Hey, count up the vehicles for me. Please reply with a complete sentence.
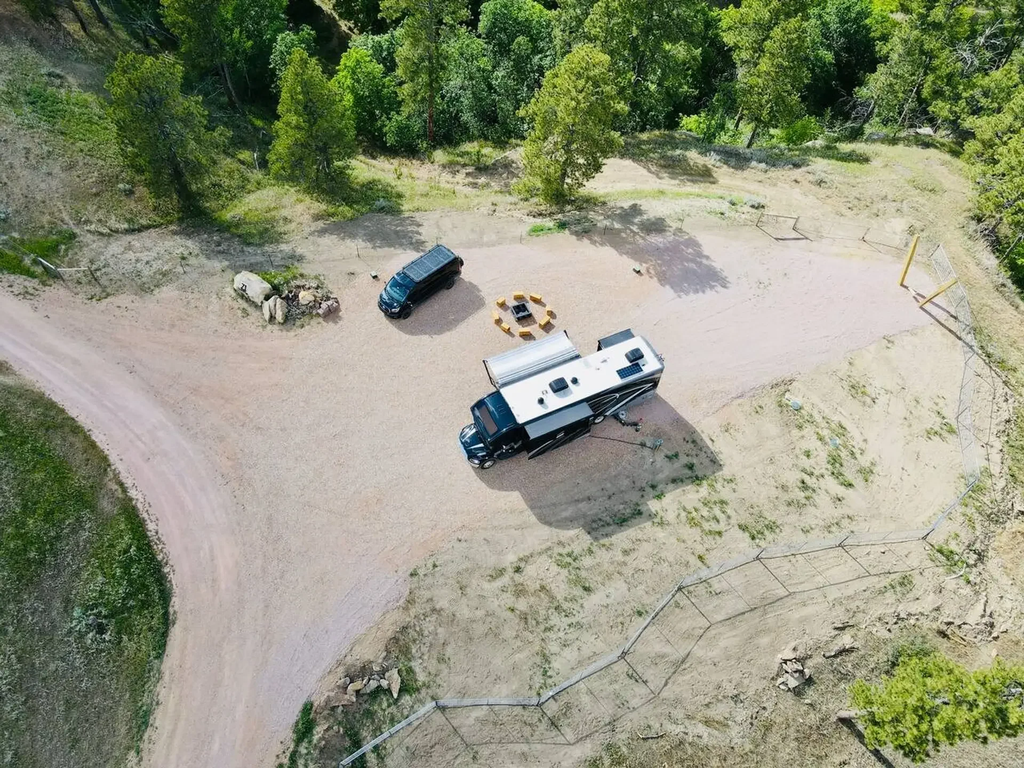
The number of vehicles here is 2.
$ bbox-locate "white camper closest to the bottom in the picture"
[451,327,663,470]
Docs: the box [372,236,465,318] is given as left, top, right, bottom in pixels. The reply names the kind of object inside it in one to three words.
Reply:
van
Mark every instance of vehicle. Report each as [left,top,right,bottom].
[451,327,663,470]
[372,236,465,318]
